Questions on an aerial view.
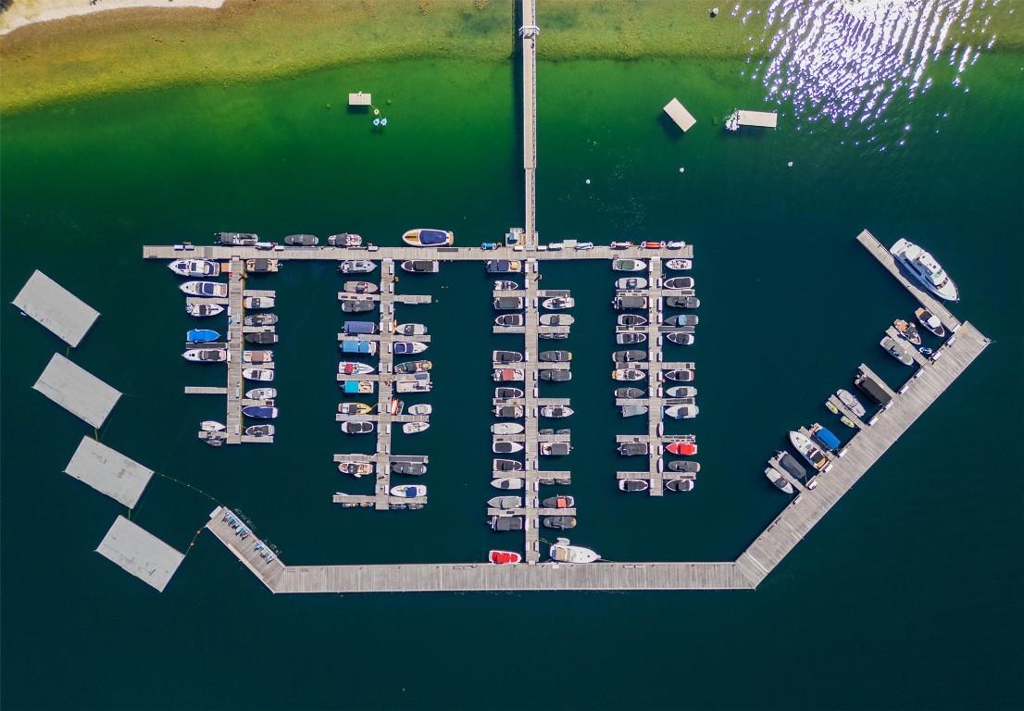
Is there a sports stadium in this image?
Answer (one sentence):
No, no sports stadium is visible in the scene.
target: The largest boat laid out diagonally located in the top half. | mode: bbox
[889,238,961,301]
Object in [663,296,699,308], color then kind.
gray boat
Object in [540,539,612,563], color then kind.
white boat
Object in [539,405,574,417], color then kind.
white boat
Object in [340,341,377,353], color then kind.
blue boat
